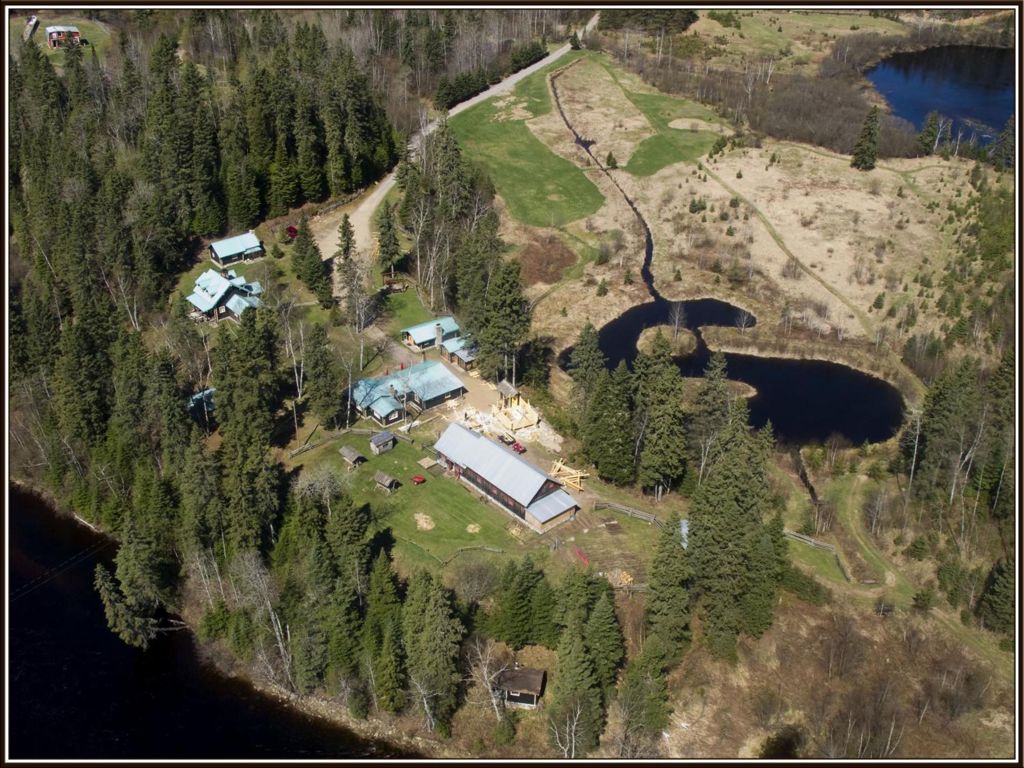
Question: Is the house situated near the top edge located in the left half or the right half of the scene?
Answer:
left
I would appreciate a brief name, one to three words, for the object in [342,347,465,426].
building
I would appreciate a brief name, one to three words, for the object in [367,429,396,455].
shed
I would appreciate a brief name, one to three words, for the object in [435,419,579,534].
barn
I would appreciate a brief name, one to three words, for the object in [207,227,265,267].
building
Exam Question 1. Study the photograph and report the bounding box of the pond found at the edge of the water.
[558,286,907,461]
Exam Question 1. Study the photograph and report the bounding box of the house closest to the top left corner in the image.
[46,24,83,49]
